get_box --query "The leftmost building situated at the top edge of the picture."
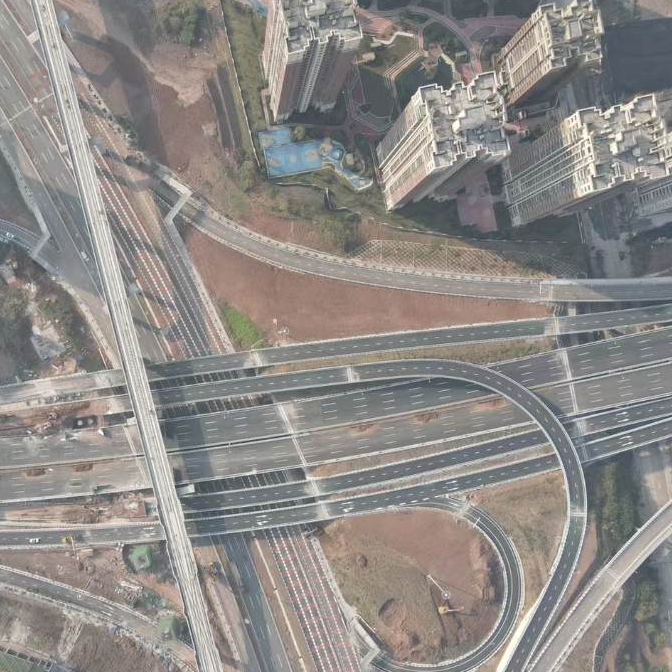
[265,0,363,125]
